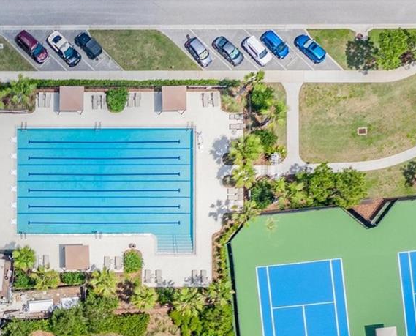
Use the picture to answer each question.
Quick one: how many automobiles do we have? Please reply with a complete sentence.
In total, 8 automobiles can be seen.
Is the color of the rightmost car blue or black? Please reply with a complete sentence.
The color of the rightmost car is blue.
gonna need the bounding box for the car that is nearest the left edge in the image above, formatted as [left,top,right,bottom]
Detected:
[15,29,48,65]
